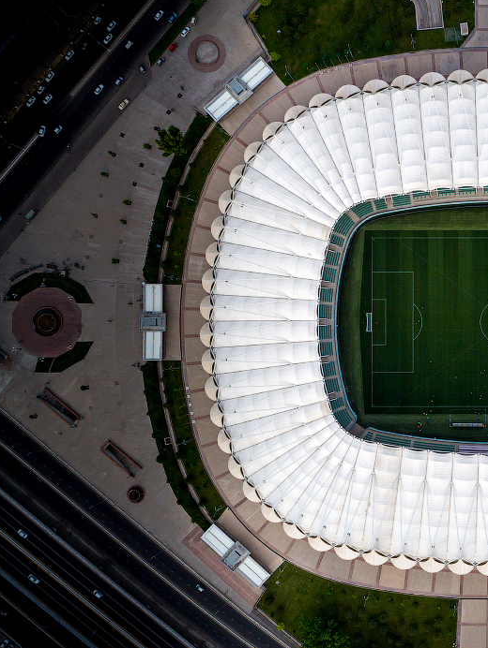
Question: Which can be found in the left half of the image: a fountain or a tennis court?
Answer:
fountain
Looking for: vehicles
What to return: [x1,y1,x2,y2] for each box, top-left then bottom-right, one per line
[106,19,116,30]
[65,48,75,59]
[0,640,8,648]
[153,8,163,19]
[16,530,27,539]
[35,84,45,94]
[42,93,52,104]
[118,98,128,109]
[155,54,165,66]
[37,125,46,136]
[113,74,124,85]
[93,84,103,94]
[52,123,63,134]
[167,11,178,21]
[44,71,54,81]
[92,13,102,24]
[103,32,113,42]
[167,40,177,51]
[195,584,206,594]
[0,609,7,619]
[179,25,190,36]
[123,37,134,49]
[27,575,38,585]
[92,590,103,600]
[21,208,34,220]
[25,95,35,106]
